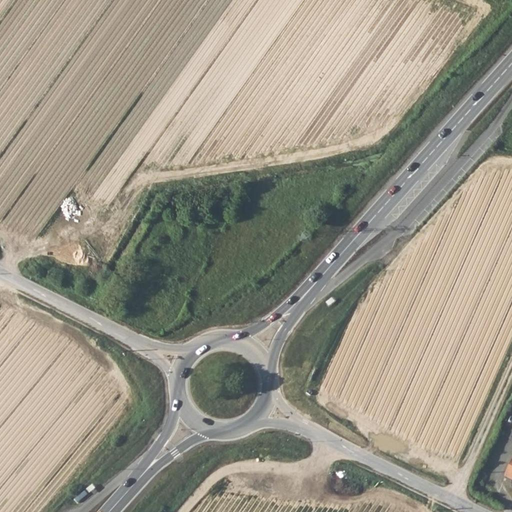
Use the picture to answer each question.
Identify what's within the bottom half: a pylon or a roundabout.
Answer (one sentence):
Looking within the bottom half, you will find a roundabout.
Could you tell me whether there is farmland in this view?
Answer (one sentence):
Yes, the picture does contain farmland.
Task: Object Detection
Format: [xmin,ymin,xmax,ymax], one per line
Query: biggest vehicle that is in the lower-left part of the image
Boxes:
[76,484,96,500]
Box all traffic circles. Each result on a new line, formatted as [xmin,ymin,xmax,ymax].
[143,300,302,471]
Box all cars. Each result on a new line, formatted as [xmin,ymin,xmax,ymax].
[325,253,335,263]
[439,128,450,138]
[172,400,178,410]
[124,478,134,488]
[202,418,214,424]
[196,345,206,355]
[355,223,364,233]
[472,91,482,102]
[408,162,418,172]
[388,186,398,195]
[268,314,278,322]
[288,296,297,305]
[182,368,190,379]
[310,272,320,282]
